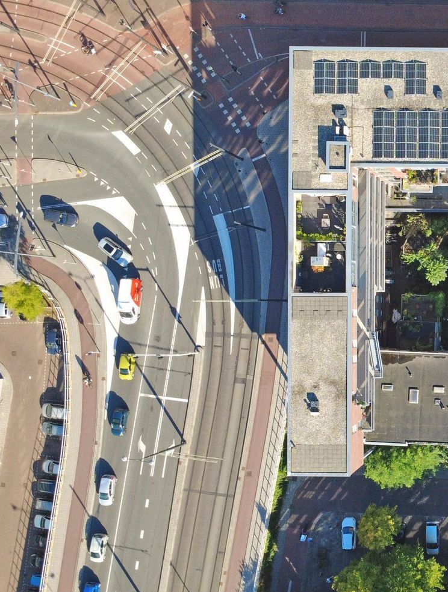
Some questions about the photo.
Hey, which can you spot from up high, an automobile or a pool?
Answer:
automobile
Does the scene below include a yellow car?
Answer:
Yes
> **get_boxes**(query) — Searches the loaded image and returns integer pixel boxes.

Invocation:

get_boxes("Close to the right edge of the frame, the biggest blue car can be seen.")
[424,519,441,555]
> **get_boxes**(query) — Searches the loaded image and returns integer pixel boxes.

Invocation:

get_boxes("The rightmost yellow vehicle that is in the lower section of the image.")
[120,352,137,381]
